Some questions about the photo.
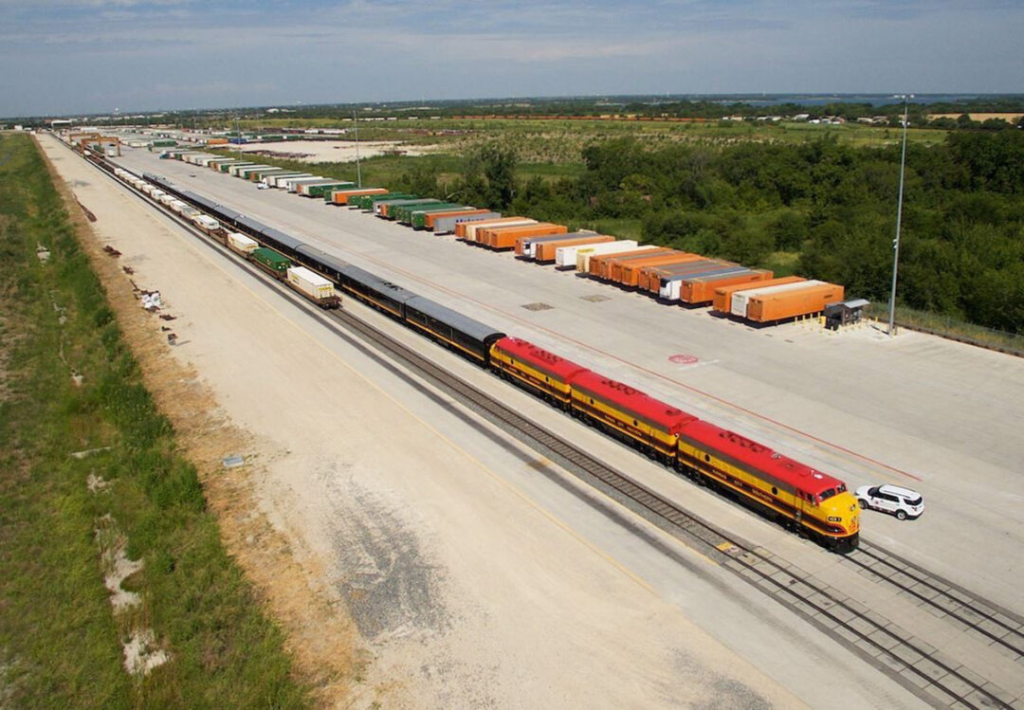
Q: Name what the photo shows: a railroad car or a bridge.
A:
railroad car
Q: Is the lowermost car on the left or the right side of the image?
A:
right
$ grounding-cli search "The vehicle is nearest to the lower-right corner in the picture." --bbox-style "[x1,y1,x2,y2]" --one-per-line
[856,487,926,522]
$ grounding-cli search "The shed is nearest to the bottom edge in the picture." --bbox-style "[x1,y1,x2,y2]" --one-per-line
[821,297,873,331]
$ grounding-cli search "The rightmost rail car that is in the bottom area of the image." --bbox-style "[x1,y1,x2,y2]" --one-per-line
[676,414,858,545]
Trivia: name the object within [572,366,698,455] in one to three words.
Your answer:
rail car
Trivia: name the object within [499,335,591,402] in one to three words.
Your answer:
rail car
